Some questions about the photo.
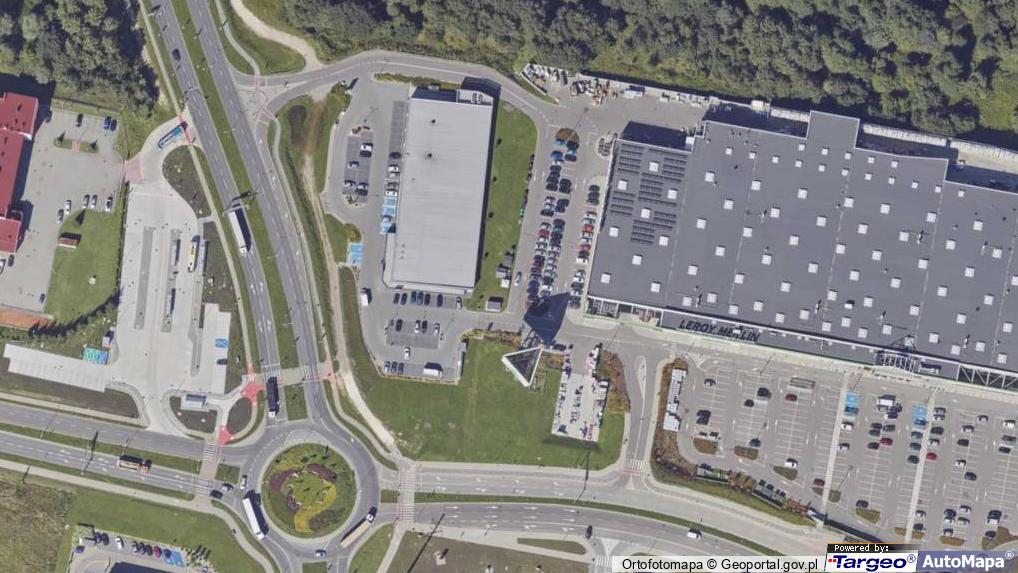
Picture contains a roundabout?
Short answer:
Yes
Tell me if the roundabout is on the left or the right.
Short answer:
left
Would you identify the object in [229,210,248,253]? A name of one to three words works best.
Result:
vehicle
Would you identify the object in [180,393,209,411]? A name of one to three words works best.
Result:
building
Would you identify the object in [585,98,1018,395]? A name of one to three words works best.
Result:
building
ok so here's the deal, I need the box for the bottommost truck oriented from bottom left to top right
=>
[340,515,375,546]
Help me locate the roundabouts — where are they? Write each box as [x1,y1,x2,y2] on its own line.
[240,422,379,561]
